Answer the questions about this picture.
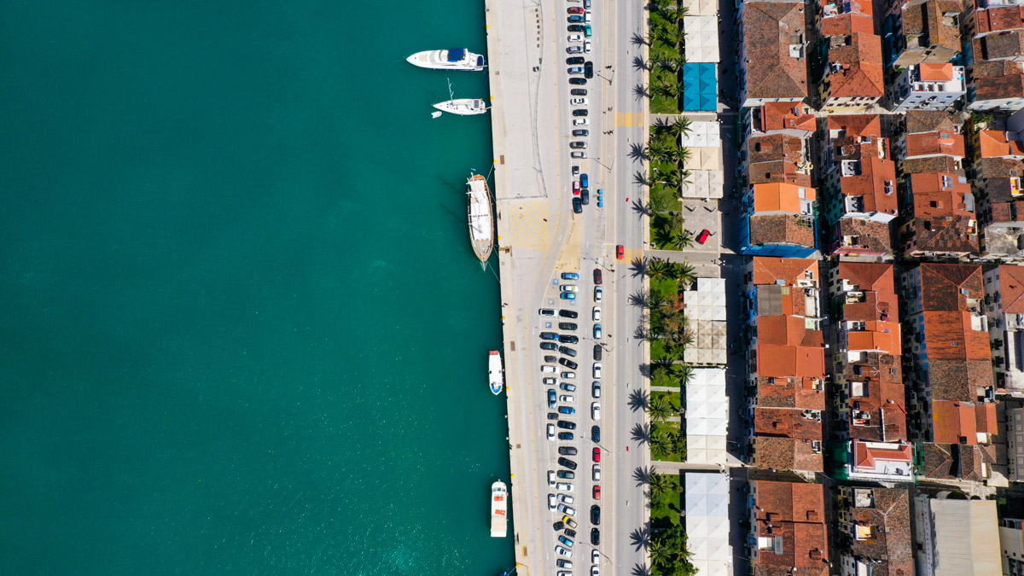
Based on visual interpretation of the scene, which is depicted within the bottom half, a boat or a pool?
boat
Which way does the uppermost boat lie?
horizontally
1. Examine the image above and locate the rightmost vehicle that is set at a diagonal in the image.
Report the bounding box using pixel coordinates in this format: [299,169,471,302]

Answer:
[696,228,709,245]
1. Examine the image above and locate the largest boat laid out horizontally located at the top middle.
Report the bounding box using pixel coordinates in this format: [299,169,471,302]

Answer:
[408,50,488,71]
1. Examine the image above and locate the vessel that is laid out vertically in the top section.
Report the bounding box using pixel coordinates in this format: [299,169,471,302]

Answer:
[468,169,494,272]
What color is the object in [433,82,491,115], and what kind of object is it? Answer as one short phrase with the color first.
white boat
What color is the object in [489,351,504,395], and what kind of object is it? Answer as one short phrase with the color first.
white boat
